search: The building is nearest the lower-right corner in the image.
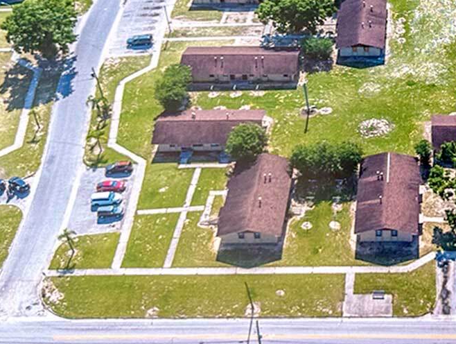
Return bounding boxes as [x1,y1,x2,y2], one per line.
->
[351,153,422,244]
